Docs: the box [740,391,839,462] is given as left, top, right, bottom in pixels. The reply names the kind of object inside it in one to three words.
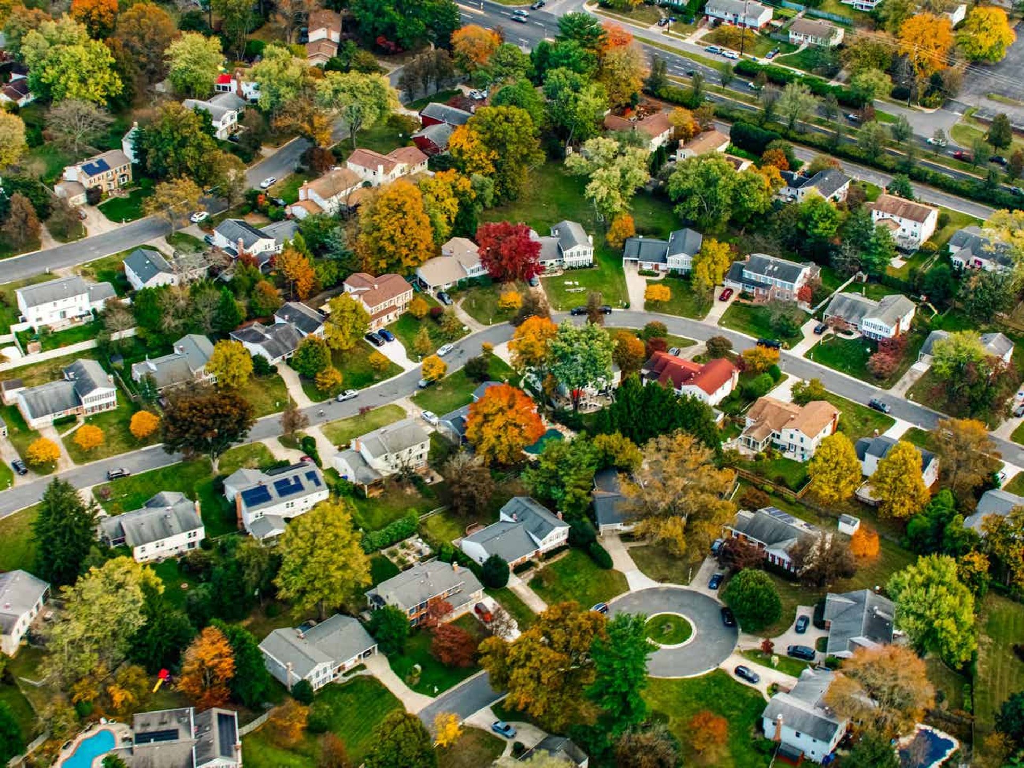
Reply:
house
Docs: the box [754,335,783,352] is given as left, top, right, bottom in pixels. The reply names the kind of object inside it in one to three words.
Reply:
vehicle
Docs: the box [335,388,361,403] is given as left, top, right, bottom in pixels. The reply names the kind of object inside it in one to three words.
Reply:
car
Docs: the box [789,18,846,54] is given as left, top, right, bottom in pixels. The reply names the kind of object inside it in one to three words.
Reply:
house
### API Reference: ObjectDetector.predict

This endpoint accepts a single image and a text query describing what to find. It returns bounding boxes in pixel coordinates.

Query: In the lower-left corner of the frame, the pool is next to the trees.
[53,722,131,768]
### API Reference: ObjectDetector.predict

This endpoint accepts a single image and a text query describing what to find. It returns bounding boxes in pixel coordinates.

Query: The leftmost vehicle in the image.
[11,455,29,476]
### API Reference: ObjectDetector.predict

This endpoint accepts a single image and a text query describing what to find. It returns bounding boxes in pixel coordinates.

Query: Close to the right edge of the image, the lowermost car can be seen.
[992,467,1009,486]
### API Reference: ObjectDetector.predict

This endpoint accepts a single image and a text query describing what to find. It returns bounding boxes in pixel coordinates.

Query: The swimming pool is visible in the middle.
[521,423,575,459]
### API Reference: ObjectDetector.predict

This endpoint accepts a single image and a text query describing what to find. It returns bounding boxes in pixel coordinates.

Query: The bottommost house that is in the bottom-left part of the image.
[130,697,247,768]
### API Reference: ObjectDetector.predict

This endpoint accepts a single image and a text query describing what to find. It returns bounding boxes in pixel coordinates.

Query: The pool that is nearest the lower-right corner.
[896,723,962,768]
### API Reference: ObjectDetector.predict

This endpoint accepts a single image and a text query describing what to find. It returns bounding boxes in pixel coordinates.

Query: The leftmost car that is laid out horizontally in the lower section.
[103,466,132,481]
